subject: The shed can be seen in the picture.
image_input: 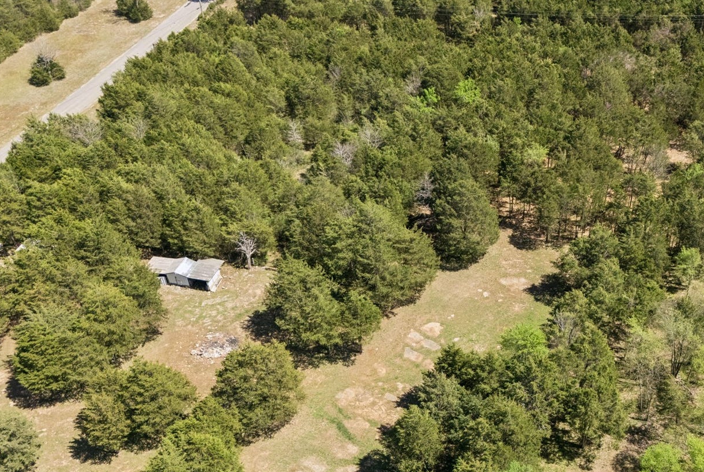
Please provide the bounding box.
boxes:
[144,254,231,294]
